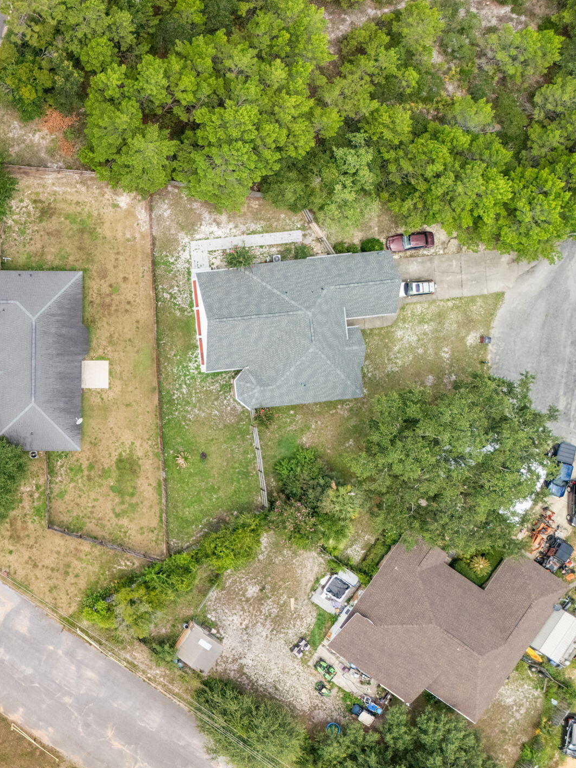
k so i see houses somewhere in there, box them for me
[0,270,89,451]
[327,531,568,723]
[187,252,401,411]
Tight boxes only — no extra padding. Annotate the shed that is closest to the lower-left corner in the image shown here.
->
[175,619,223,675]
